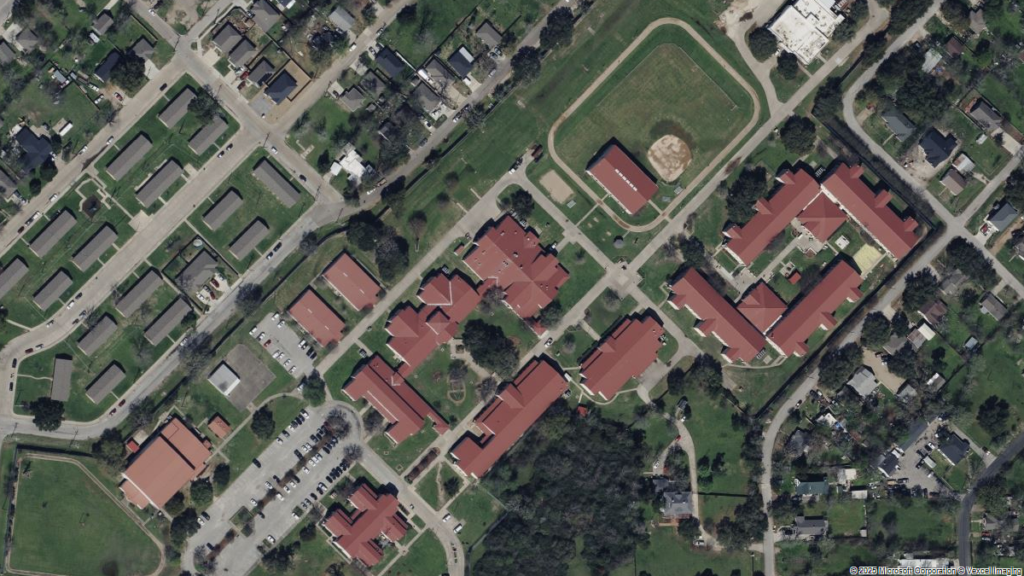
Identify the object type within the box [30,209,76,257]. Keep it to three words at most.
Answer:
building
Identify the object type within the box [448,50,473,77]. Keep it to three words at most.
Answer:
house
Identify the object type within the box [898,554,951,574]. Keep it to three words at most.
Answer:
barn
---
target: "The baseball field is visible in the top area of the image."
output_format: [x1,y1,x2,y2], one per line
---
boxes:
[596,44,738,188]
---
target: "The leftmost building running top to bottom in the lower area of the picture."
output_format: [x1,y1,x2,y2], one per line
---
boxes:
[50,357,71,401]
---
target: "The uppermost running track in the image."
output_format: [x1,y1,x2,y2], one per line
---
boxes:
[546,17,761,232]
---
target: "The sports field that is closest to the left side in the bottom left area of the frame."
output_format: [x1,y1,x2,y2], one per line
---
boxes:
[11,457,161,576]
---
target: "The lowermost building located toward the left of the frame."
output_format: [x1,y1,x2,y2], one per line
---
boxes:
[324,484,407,567]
